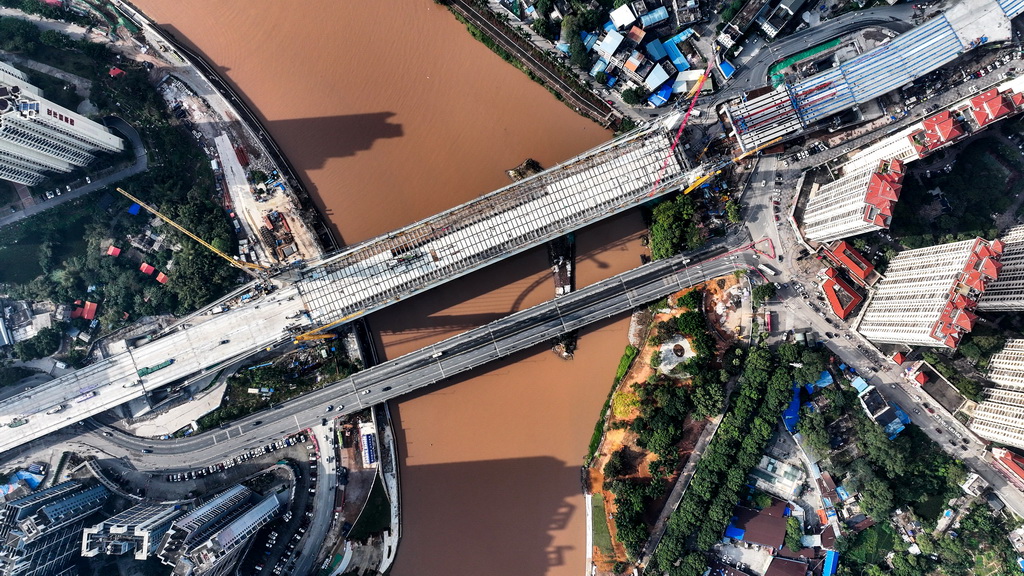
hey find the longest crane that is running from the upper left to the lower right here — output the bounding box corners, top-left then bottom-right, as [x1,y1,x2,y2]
[117,187,266,281]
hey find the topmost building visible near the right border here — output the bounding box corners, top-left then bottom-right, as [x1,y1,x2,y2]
[842,72,1024,172]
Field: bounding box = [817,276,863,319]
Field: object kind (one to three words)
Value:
building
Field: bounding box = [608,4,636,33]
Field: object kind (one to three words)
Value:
shed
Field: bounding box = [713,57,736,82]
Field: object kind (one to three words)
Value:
house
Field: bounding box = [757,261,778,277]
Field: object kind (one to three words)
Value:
vehicle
